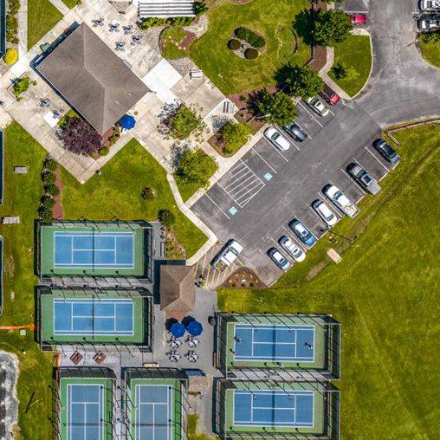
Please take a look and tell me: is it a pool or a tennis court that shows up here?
tennis court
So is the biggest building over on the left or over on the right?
left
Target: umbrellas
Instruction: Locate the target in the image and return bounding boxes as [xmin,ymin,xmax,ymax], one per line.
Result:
[119,114,134,129]
[188,321,202,335]
[170,322,184,336]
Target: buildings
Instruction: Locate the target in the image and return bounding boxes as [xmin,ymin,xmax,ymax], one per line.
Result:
[160,264,195,312]
[37,23,149,135]
[186,371,207,392]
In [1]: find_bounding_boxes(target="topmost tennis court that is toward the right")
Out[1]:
[218,314,340,384]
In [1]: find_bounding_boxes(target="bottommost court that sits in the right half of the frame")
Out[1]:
[217,379,339,440]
